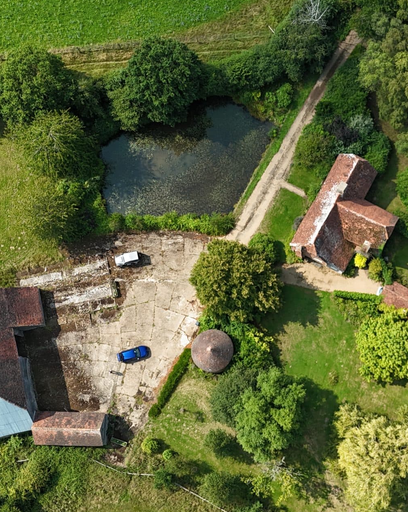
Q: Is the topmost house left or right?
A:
right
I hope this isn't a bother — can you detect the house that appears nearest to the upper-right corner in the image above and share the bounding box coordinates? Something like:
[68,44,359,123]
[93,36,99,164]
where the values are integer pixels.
[289,155,399,276]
